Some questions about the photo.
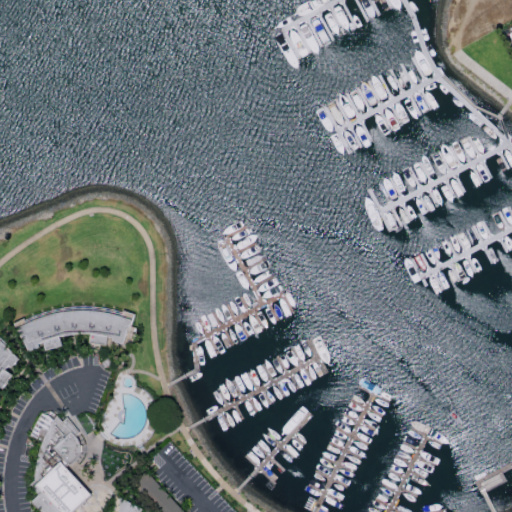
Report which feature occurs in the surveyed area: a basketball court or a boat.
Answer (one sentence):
Visible in the photo is a boat.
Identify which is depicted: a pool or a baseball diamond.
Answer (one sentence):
Of the two, only a pool appears.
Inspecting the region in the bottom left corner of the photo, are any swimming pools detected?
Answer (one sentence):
Yes, a swimming pool appears in the bottom left corner of the photo.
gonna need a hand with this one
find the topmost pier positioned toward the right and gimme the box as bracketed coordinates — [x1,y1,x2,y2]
[272,0,392,68]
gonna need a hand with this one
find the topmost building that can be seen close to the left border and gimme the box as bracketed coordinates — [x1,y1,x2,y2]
[14,306,137,351]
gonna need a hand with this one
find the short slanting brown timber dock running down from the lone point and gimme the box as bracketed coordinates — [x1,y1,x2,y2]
[215,220,282,304]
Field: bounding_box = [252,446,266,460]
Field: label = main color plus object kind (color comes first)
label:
white boat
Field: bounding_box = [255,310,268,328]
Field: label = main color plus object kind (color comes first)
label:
white boat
